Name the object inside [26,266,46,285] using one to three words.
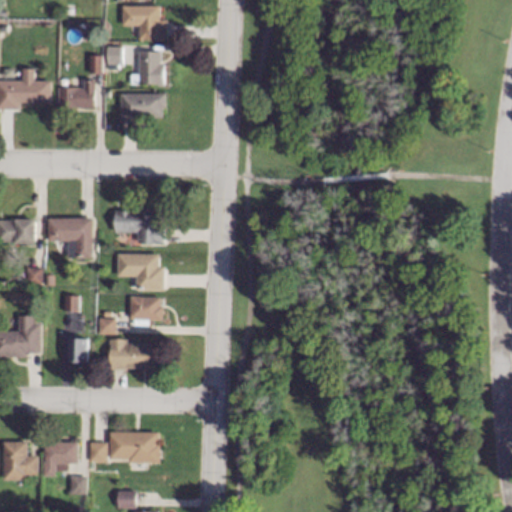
building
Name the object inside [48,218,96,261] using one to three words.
house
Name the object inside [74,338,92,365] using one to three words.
building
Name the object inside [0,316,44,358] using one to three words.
house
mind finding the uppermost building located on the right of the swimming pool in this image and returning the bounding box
[122,6,163,42]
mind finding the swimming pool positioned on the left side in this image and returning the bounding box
[66,28,86,45]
